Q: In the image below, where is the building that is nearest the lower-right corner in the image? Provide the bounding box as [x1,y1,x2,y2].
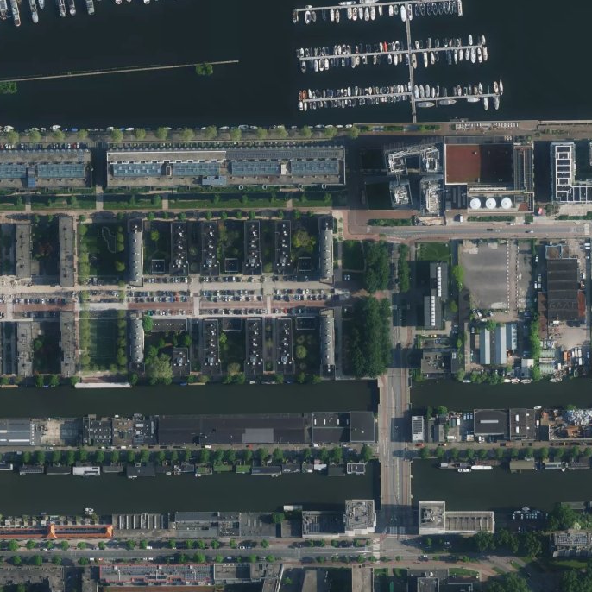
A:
[553,534,592,556]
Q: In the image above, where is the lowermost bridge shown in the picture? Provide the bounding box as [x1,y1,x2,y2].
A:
[376,460,412,508]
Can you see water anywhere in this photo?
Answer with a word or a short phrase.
Yes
